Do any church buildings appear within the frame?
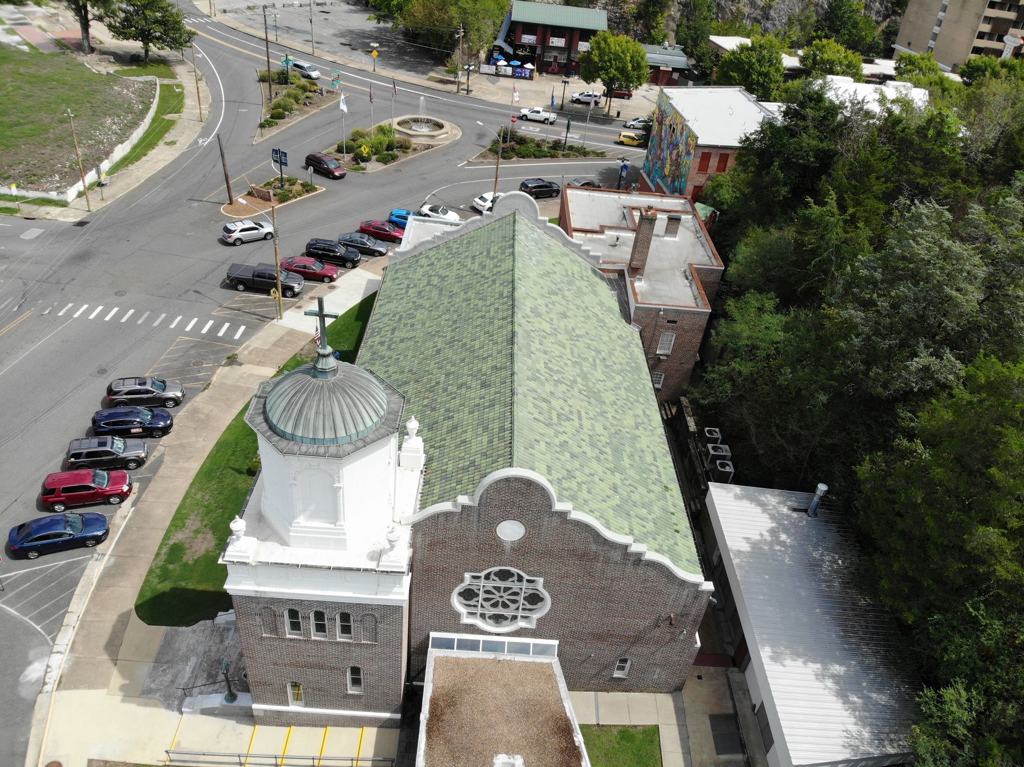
Yes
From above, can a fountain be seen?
Yes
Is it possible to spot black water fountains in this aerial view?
No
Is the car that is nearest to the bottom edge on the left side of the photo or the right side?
left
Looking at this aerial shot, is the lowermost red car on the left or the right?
left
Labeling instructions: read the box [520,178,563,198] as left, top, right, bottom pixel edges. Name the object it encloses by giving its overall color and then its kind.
black car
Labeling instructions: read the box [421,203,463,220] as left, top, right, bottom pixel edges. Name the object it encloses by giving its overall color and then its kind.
white car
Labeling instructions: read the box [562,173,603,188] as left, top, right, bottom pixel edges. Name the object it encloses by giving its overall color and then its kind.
gray car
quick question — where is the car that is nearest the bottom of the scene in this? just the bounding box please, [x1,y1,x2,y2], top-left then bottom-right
[2,509,112,561]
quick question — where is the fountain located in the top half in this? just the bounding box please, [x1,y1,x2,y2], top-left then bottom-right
[389,92,454,142]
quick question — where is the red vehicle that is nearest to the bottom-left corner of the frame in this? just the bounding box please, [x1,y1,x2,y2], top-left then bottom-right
[34,466,134,513]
